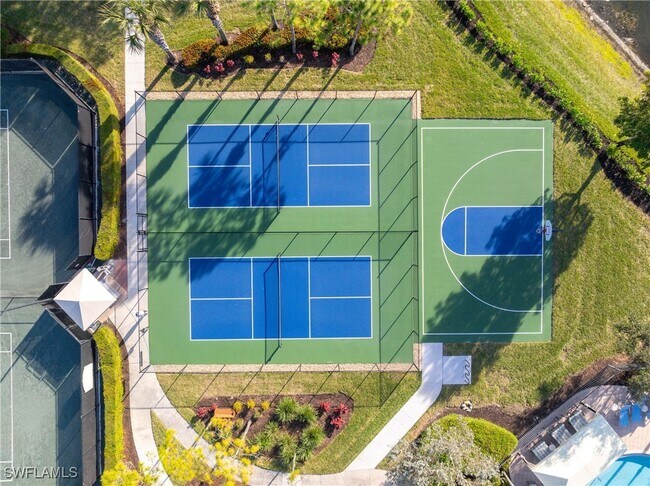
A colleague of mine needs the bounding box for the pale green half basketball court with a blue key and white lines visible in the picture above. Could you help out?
[418,120,554,343]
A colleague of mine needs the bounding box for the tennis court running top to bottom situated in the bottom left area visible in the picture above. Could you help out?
[0,297,84,486]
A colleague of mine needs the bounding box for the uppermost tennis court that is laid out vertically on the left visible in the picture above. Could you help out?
[0,72,83,297]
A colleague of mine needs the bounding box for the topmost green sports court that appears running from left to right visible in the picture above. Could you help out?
[146,98,418,233]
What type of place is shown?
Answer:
sports ground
